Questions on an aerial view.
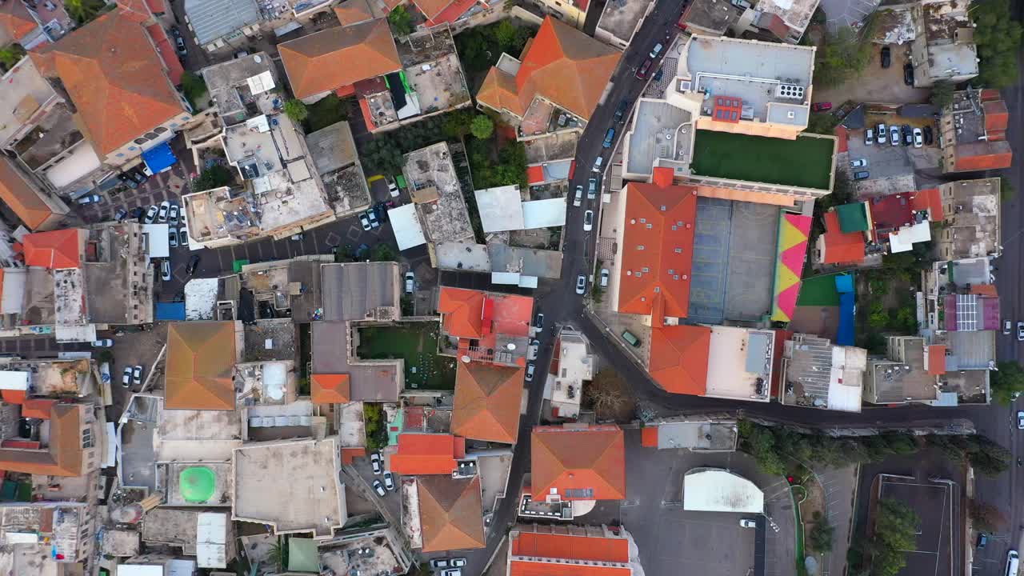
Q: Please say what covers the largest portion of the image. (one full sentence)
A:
Most of the picture is covered by buildings.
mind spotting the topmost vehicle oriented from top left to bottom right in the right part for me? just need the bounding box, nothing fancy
[620,328,641,349]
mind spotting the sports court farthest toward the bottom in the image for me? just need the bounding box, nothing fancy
[843,466,960,576]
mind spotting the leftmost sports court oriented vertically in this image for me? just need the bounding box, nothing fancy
[682,196,732,323]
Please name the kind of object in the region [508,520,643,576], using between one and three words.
building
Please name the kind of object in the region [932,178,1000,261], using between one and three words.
house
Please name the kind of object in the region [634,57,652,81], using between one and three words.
vehicle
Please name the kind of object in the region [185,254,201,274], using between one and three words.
car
